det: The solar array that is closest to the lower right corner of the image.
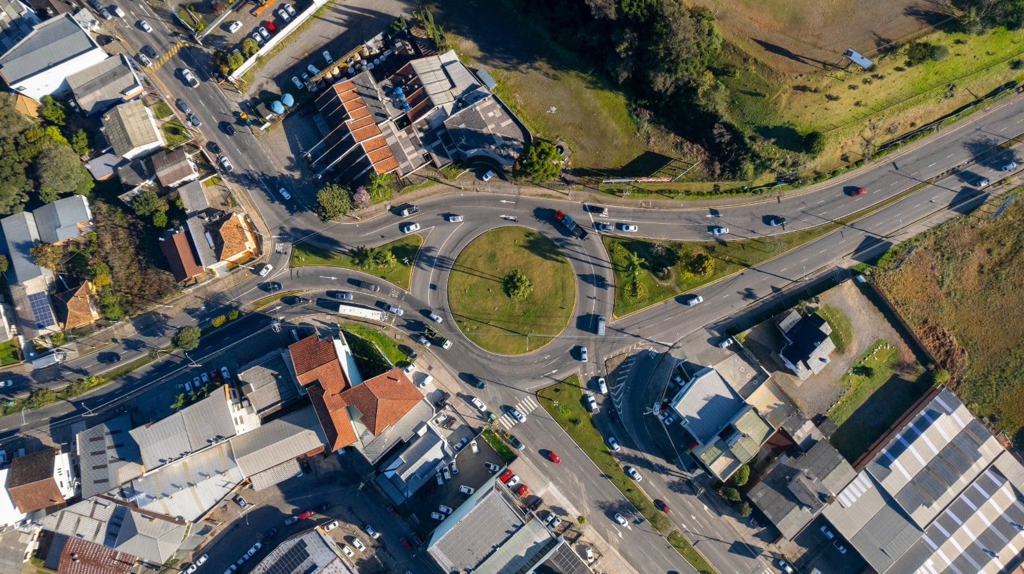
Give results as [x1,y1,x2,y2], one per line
[555,546,580,574]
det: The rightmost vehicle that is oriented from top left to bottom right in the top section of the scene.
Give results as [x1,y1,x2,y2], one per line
[553,209,587,239]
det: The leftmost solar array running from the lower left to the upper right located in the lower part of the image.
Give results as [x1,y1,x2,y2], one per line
[265,539,310,574]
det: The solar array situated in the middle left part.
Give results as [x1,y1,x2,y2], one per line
[27,291,55,329]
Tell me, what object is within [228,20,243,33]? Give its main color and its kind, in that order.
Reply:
white vehicle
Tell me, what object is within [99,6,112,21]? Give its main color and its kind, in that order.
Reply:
gray vehicle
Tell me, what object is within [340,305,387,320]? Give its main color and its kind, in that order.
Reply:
white vehicle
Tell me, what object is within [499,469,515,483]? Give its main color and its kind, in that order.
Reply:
red vehicle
